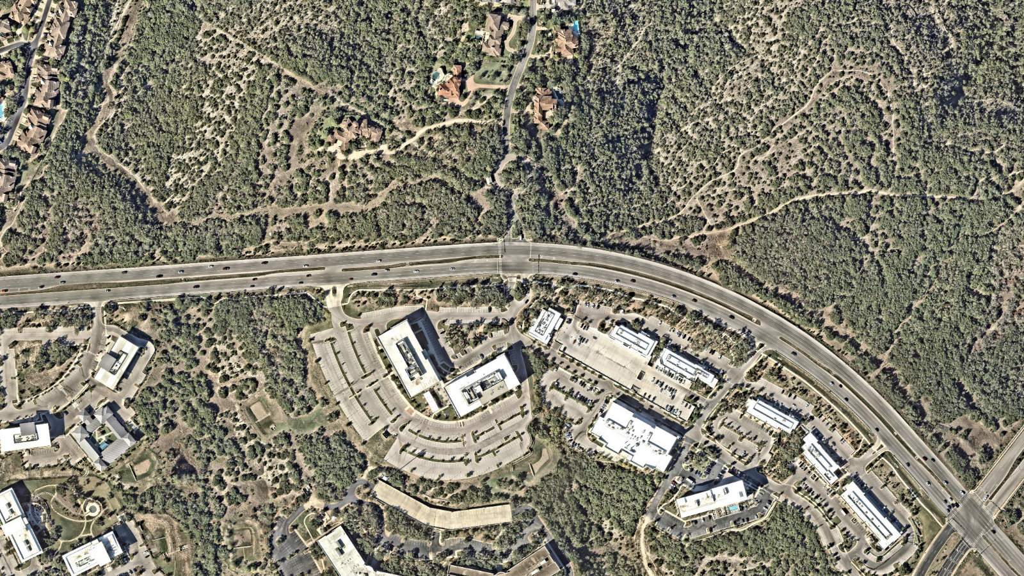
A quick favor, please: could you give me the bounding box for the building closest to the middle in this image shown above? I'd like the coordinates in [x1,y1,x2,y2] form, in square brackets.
[528,308,563,344]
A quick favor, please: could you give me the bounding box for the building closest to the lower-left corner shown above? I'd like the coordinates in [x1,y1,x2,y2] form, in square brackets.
[0,488,43,563]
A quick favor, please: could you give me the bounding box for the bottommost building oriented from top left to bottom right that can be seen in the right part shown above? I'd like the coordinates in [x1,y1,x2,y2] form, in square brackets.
[840,482,901,550]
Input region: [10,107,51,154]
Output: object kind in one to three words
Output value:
house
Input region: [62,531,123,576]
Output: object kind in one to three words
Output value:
building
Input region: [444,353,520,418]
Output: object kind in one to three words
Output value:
building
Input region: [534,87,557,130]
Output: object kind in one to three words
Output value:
house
